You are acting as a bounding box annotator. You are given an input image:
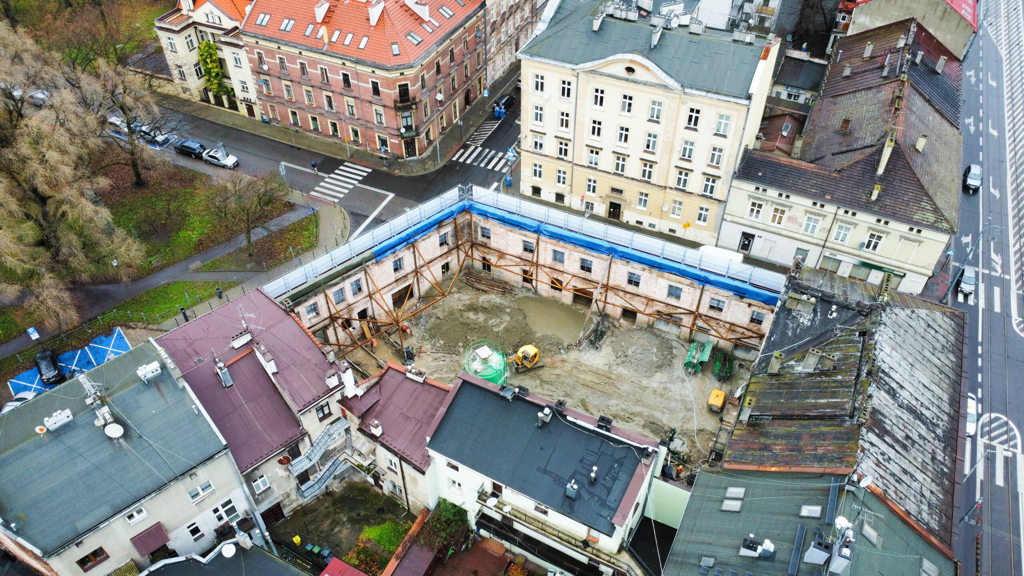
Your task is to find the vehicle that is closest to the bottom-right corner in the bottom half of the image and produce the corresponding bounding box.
[965,392,988,437]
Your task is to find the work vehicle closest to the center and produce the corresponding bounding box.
[504,339,544,370]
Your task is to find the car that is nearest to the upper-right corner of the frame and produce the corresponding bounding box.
[964,162,985,189]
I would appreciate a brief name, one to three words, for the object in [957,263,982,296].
car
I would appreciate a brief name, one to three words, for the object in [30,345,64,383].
car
